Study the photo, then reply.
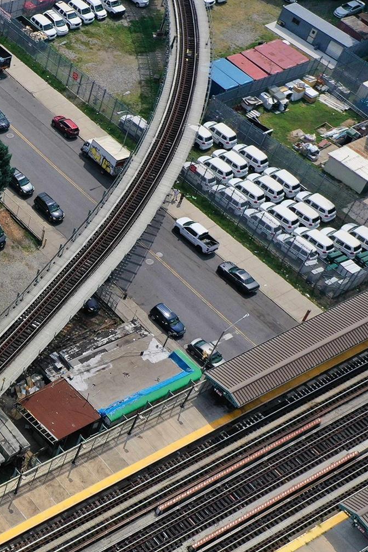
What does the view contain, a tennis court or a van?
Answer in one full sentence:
The image shows a van.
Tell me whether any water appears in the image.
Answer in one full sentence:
No, water can't be seen anywhere here.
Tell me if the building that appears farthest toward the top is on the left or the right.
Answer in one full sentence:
The building that appears farthest toward the top sits on the right side.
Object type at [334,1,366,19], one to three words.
car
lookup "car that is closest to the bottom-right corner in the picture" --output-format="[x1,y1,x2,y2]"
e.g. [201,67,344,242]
[183,338,222,372]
